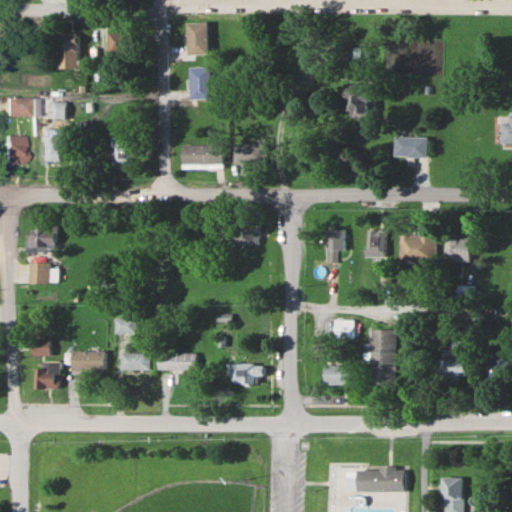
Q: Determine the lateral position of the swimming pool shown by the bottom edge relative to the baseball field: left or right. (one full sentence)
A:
The swimming pool shown by the bottom edge is to the right of the baseball field.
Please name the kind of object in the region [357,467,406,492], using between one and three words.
building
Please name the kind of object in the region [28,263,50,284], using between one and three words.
building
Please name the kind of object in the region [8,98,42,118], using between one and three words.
house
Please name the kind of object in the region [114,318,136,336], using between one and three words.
house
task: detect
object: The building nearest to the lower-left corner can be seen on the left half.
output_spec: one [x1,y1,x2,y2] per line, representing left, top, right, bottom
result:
[34,364,60,390]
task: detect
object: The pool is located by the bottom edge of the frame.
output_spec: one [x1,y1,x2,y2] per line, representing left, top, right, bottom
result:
[328,464,409,512]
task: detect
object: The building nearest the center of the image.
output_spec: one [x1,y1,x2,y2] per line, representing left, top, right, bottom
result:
[232,230,262,246]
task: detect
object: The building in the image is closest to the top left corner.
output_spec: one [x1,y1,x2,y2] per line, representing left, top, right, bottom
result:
[58,37,78,70]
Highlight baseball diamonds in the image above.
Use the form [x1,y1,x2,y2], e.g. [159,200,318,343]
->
[108,480,256,512]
